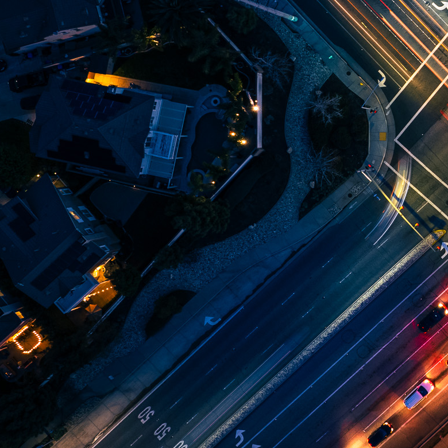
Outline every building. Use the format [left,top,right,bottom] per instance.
[0,0,121,55]
[0,173,125,315]
[30,71,195,179]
